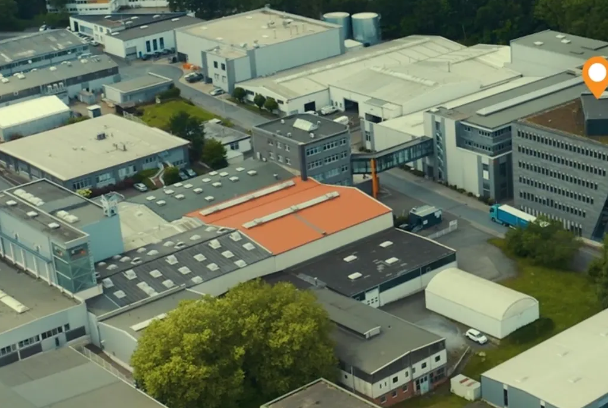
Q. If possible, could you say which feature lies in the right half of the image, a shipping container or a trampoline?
shipping container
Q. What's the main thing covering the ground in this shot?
buildings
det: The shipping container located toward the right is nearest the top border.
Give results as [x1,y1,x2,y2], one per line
[402,202,445,227]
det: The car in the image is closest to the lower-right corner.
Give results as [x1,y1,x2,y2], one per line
[463,328,489,343]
